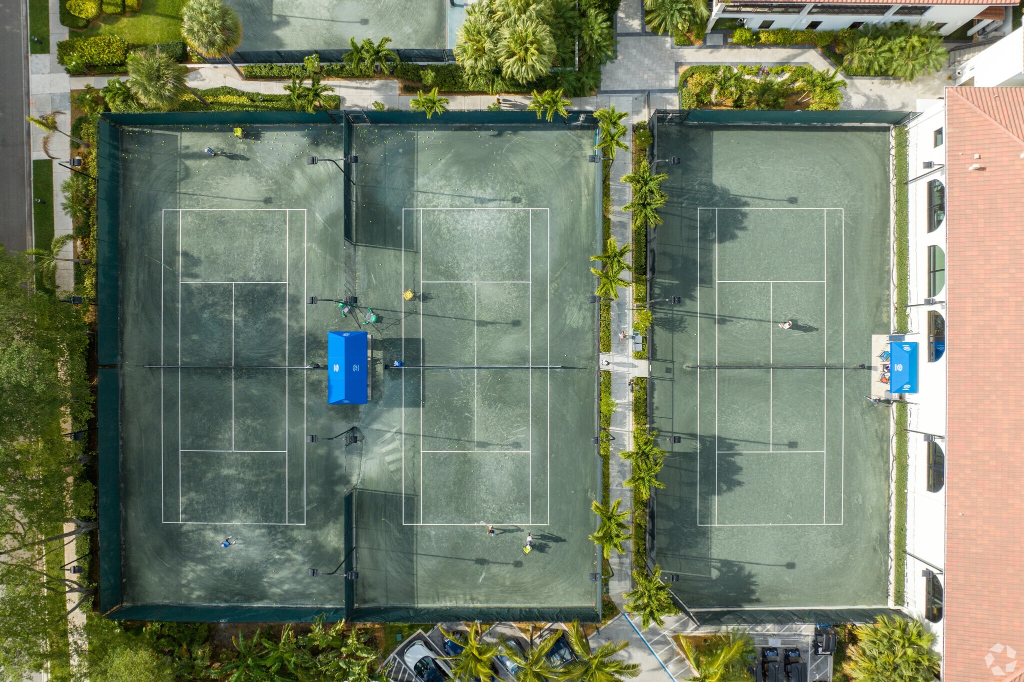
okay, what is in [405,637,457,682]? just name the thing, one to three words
car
